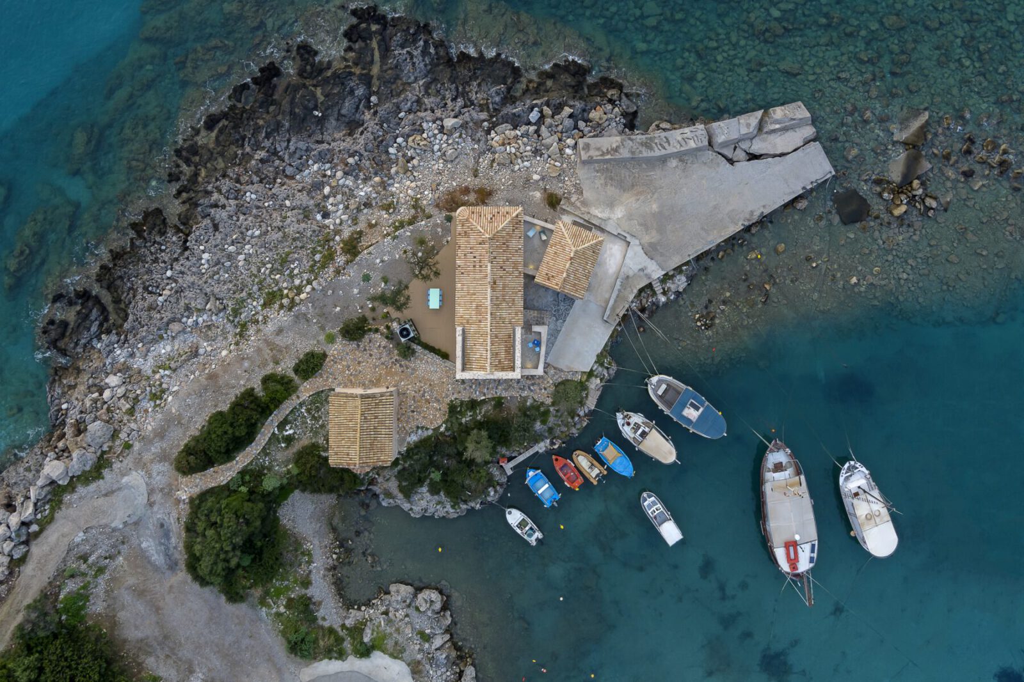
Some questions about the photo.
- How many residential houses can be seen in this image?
3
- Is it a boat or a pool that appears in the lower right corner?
boat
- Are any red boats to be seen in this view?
Yes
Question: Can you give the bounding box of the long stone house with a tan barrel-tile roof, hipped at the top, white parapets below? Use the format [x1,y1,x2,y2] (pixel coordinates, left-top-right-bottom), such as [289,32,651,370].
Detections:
[453,204,526,380]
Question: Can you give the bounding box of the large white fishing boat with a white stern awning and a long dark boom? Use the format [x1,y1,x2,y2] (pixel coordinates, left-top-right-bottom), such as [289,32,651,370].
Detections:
[836,460,902,558]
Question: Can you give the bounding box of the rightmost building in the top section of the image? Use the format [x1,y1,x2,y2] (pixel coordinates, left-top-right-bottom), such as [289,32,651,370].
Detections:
[532,219,606,300]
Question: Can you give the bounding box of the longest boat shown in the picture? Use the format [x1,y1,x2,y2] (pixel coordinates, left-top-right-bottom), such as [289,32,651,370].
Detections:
[758,438,817,607]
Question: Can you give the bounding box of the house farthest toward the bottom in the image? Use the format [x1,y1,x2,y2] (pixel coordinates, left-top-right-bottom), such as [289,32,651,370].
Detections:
[326,387,400,473]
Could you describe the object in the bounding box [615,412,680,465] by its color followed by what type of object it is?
white boat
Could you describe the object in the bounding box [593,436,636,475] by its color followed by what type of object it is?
blue boat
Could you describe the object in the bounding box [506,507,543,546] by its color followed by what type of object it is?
white boat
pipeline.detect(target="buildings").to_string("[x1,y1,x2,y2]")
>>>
[532,219,606,300]
[326,387,400,473]
[453,204,526,380]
